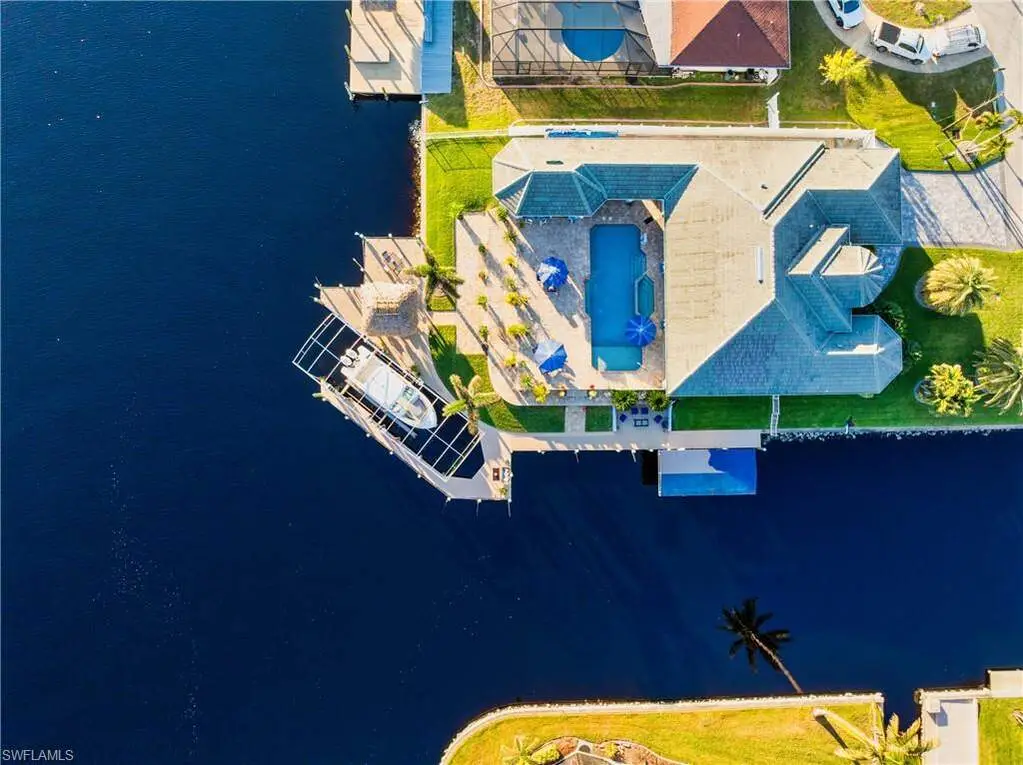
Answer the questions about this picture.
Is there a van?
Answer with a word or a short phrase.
Yes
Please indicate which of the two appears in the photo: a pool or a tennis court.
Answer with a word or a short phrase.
pool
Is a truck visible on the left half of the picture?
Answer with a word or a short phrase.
No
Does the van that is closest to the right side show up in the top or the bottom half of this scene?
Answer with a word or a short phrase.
top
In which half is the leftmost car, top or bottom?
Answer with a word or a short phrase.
top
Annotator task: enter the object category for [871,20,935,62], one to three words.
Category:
truck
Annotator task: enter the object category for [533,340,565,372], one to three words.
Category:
umbrella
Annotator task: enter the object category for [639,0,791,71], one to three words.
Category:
house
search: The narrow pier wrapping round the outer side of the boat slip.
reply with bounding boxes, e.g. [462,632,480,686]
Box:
[321,382,511,499]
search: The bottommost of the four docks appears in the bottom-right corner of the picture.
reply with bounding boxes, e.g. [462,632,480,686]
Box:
[985,666,1023,696]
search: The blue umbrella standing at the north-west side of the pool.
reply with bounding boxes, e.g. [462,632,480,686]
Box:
[536,259,568,290]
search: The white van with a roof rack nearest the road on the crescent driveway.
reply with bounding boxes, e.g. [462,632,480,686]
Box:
[931,21,989,57]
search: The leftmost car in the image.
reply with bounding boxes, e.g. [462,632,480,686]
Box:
[832,0,863,30]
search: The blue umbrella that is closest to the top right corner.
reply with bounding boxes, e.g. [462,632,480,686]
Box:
[623,315,655,347]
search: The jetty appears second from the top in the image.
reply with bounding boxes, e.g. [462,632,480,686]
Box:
[319,238,421,366]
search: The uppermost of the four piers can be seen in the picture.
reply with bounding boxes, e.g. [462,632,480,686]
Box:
[350,0,421,96]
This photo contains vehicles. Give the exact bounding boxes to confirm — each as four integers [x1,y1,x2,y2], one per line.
[931,21,989,57]
[832,0,863,30]
[871,20,935,62]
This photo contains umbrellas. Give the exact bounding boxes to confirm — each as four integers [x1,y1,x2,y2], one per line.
[623,315,655,347]
[536,259,568,290]
[533,340,565,372]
